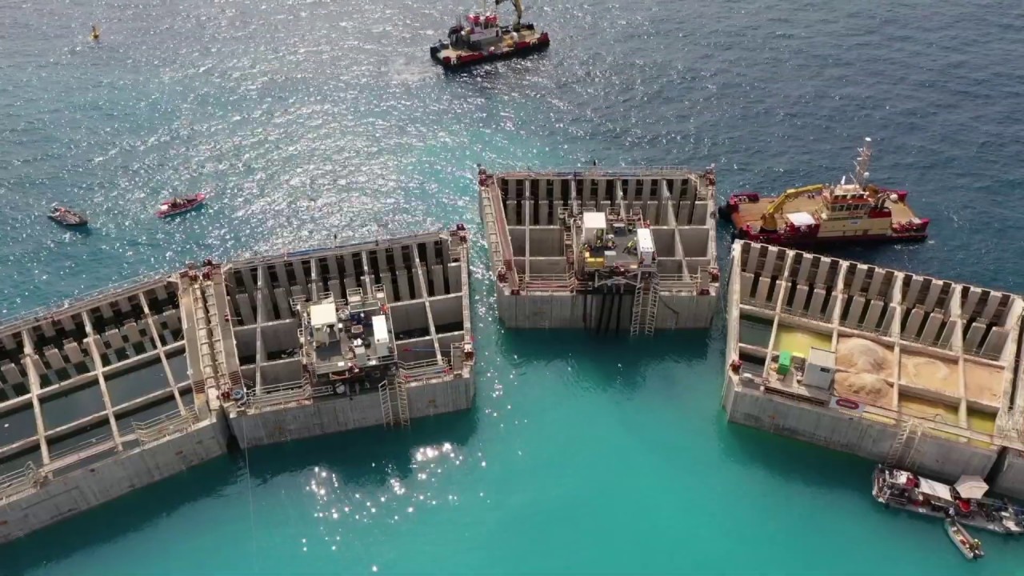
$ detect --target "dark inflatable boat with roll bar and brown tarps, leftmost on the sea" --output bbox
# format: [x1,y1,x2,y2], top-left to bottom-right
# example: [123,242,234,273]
[43,201,89,225]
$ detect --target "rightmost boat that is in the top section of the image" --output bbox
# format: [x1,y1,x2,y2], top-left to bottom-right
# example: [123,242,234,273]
[722,143,933,256]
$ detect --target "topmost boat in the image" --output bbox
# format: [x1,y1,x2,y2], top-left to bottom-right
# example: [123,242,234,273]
[430,0,553,76]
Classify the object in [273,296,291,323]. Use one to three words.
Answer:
pier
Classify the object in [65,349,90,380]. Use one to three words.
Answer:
pier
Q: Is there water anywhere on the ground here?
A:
Yes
